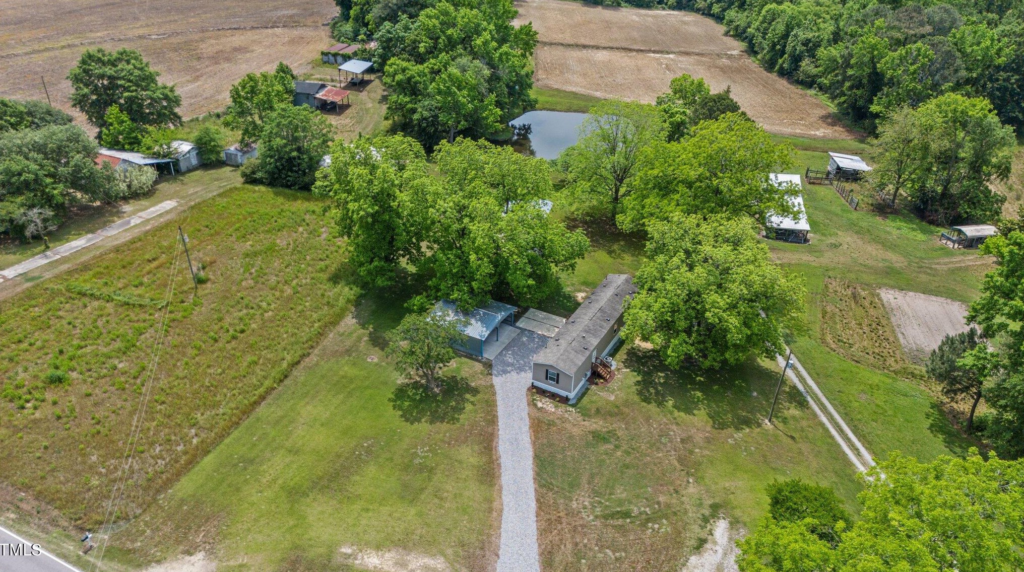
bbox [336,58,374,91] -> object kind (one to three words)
shed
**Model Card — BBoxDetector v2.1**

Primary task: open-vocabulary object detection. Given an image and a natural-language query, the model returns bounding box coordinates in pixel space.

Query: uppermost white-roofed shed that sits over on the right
[833,152,874,180]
